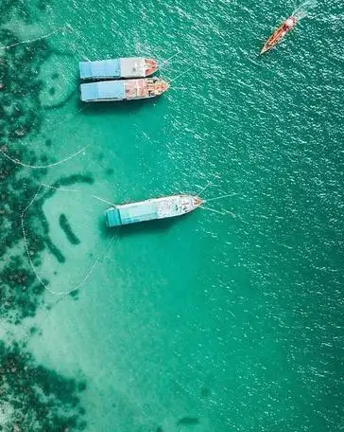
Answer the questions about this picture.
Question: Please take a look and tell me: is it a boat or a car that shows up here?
boat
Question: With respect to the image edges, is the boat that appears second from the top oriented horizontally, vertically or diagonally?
horizontally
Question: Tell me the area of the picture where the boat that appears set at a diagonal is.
top right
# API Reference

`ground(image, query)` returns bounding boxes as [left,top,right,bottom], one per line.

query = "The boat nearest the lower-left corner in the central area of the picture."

[92,184,238,273]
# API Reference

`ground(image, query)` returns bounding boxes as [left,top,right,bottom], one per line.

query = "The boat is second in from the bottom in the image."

[55,70,190,125]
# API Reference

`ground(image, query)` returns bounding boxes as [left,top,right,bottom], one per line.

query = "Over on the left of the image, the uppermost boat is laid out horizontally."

[79,53,179,79]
